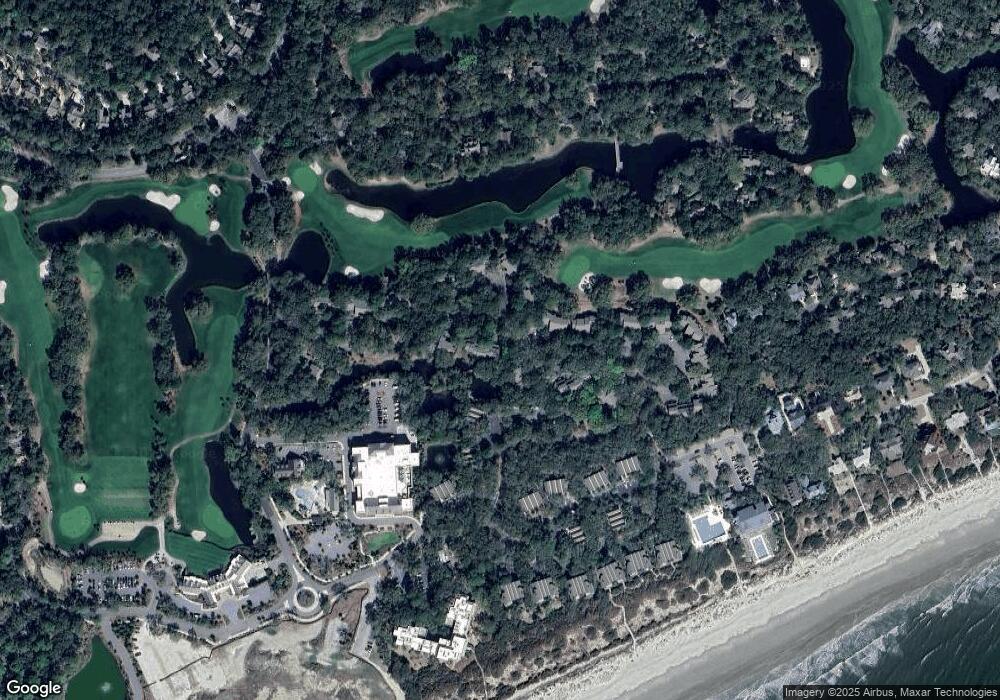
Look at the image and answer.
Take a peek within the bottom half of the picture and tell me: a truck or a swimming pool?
swimming pool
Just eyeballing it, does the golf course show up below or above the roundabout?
above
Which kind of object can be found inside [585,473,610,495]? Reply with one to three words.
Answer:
house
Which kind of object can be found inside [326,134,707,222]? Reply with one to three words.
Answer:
pond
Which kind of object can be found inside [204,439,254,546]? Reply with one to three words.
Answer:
pond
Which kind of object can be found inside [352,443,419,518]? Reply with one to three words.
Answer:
building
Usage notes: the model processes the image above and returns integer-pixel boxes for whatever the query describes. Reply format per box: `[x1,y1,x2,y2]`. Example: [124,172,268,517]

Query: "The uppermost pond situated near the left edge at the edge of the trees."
[38,196,259,366]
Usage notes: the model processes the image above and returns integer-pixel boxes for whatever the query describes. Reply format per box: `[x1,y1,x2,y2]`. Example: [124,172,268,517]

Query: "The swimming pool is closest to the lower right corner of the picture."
[747,525,777,565]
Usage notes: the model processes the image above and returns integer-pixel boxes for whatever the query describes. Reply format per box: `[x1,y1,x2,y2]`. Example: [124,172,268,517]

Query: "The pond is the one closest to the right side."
[895,39,1000,228]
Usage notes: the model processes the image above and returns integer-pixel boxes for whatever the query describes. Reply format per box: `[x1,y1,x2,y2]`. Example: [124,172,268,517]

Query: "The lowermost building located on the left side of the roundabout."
[176,555,268,619]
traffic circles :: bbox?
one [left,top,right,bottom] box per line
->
[284,565,328,619]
